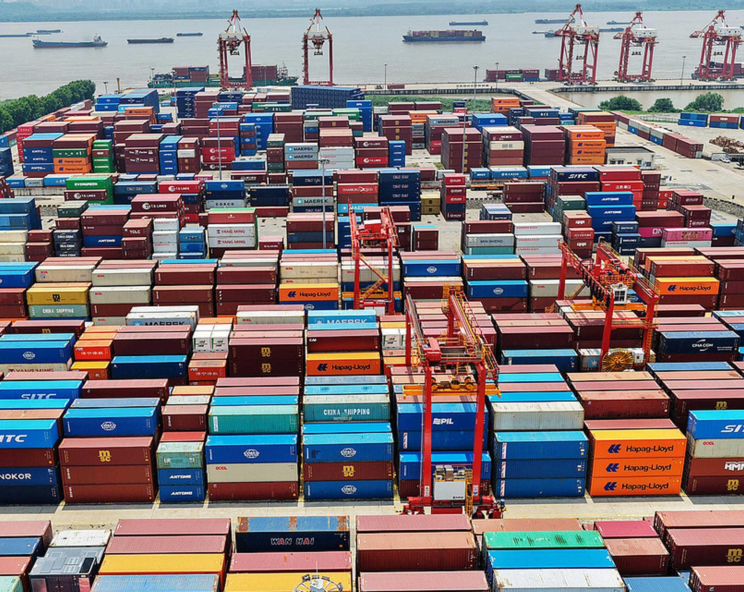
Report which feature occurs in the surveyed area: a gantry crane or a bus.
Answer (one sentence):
It is a gantry crane that can be seen here.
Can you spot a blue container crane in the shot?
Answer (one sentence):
No, there's no blue container crane here.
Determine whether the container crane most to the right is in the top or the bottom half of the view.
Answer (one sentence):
Seen from above, the container crane most to the right lies in the top half of the view.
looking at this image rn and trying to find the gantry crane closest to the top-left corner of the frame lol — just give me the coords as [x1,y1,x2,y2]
[220,10,256,89]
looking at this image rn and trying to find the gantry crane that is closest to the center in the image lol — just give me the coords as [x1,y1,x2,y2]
[339,202,402,330]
